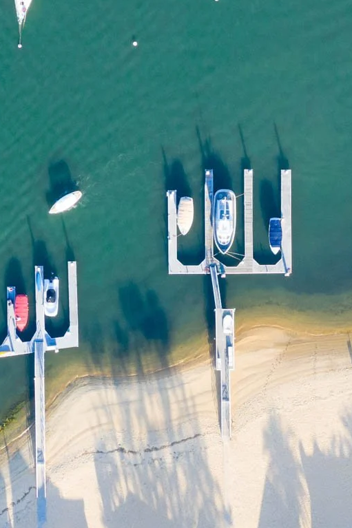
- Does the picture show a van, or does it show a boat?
boat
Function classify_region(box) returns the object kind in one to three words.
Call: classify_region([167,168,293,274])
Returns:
pier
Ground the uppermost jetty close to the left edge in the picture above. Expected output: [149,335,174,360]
[0,260,79,358]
